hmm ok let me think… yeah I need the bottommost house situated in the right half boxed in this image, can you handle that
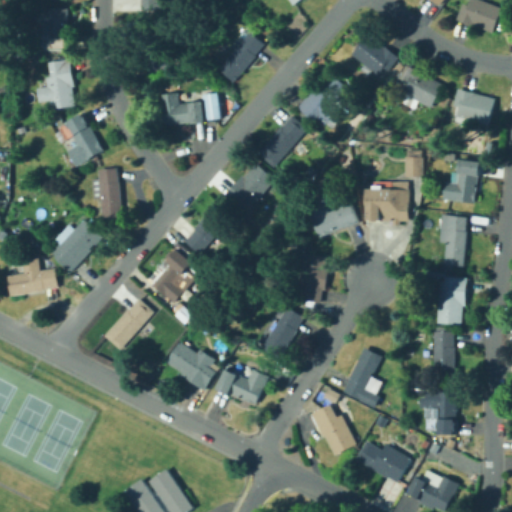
[408,472,458,512]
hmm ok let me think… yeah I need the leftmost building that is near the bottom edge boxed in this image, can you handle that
[130,478,168,512]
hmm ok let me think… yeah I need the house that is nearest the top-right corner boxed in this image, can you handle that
[458,0,500,32]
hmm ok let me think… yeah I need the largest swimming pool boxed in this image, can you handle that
[212,339,228,354]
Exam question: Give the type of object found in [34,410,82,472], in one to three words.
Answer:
tennis court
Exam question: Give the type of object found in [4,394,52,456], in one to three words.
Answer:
tennis court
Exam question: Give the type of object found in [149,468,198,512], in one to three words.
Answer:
building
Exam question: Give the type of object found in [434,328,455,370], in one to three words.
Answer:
house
